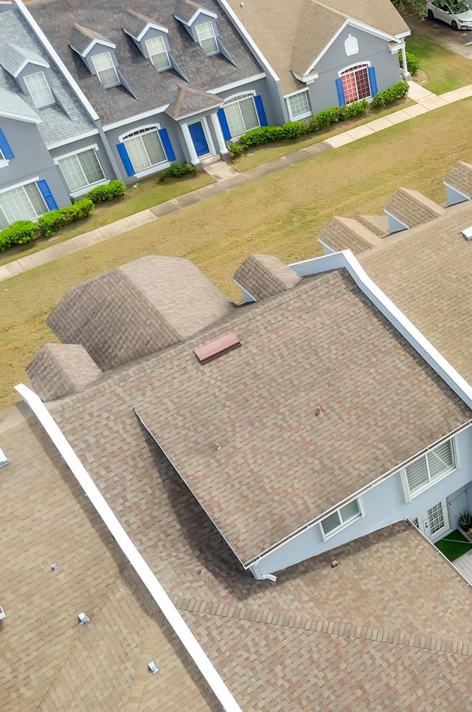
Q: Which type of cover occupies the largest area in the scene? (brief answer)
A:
buildings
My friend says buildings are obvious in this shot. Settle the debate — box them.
[0,9,113,230]
[0,394,223,712]
[25,252,472,712]
[319,162,472,385]
[224,0,419,122]
[22,0,279,182]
